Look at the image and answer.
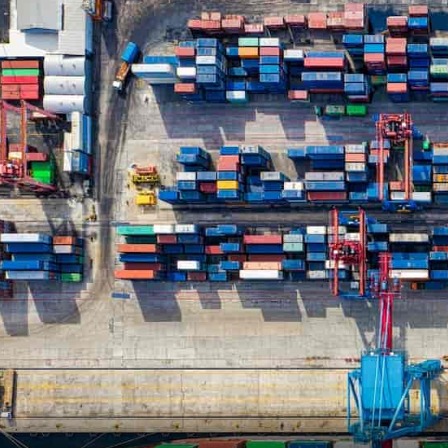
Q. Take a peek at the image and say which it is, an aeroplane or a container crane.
container crane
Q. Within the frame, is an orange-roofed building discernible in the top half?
No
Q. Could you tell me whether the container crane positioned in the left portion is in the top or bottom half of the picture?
top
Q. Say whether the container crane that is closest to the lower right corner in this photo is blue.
Yes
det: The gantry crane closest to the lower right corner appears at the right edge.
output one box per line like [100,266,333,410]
[347,251,447,448]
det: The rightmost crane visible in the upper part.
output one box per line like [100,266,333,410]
[376,114,423,213]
